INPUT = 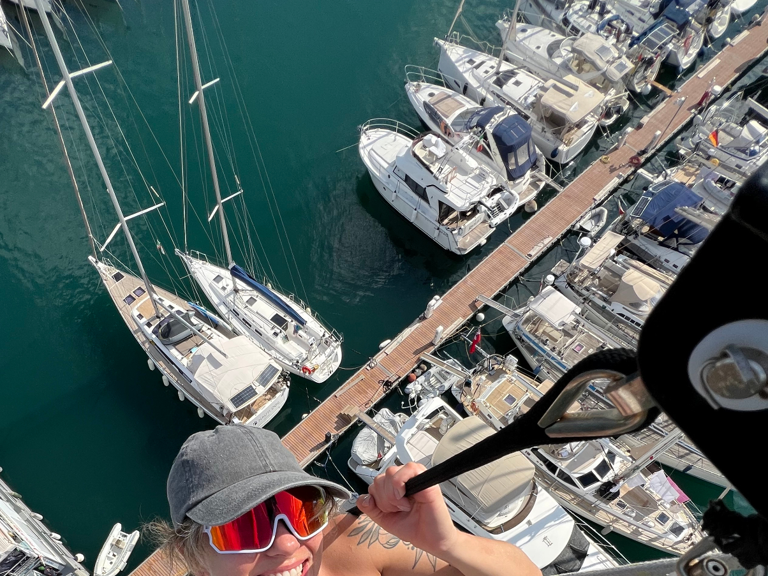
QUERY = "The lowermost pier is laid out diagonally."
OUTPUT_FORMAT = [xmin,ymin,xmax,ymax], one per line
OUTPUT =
[285,12,768,456]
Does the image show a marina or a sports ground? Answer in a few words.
marina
